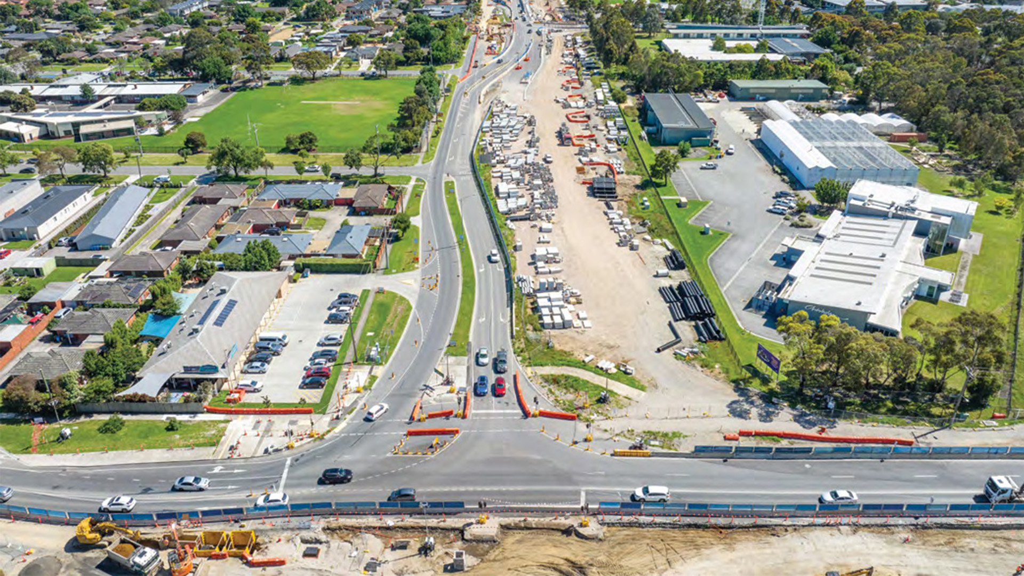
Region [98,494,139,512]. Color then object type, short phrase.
white car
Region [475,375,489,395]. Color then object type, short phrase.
blue car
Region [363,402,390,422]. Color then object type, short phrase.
white car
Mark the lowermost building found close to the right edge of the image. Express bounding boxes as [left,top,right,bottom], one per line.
[776,179,977,351]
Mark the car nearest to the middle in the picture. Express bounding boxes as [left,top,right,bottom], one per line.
[488,247,500,263]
